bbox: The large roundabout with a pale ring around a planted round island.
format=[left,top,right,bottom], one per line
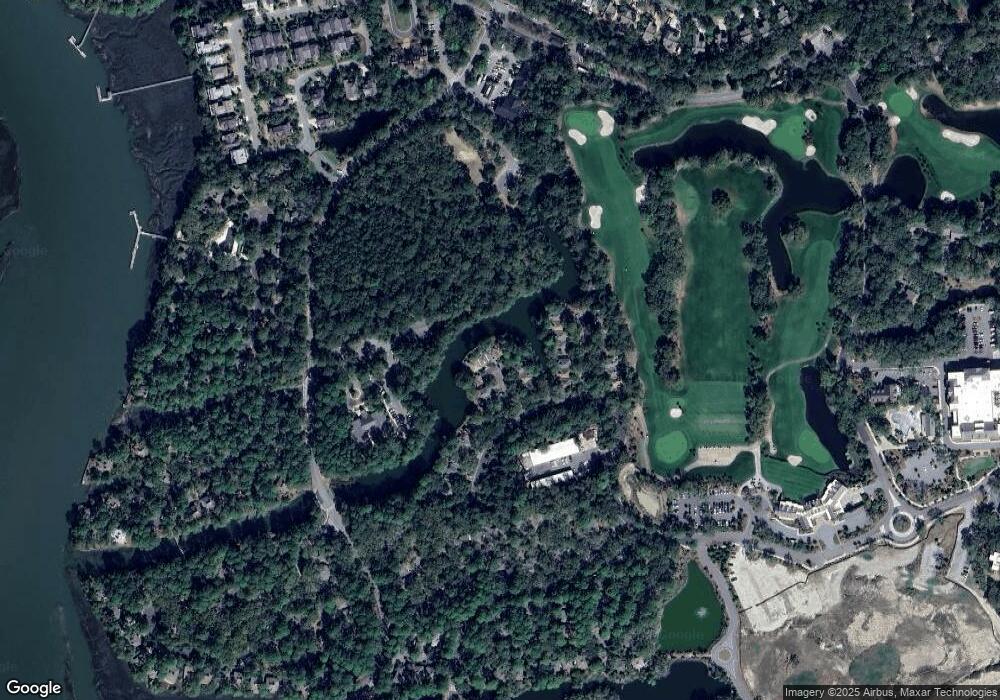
[883,505,921,543]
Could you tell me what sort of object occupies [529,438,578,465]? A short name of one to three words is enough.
building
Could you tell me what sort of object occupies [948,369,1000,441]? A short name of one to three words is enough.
building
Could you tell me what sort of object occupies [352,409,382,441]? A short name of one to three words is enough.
house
